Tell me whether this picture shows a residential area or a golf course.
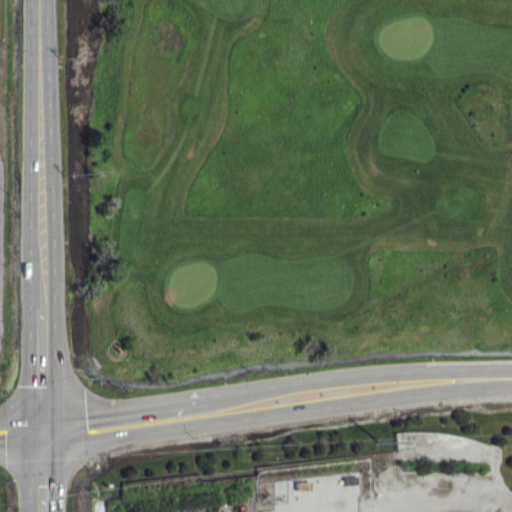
golf course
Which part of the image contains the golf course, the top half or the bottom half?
top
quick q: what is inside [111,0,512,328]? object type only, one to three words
golf course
